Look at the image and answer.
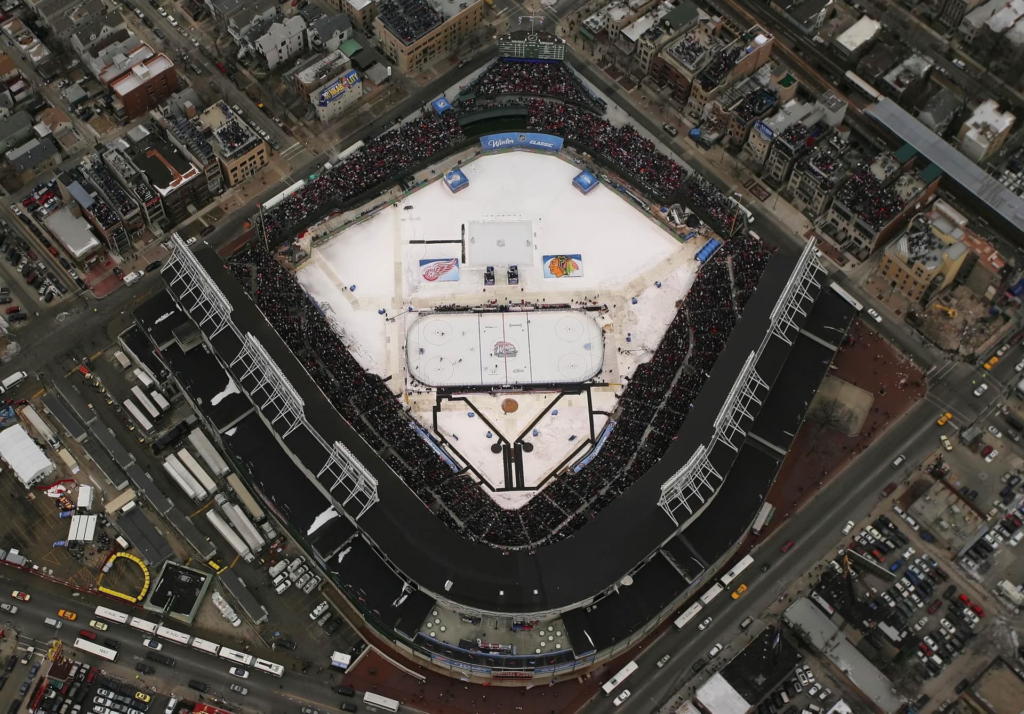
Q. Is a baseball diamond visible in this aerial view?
Yes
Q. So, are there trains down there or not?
Yes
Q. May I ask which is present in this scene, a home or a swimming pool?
home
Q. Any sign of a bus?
Yes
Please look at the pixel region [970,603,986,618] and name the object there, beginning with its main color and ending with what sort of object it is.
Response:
red car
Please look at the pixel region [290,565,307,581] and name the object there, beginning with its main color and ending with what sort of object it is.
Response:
gray vehicle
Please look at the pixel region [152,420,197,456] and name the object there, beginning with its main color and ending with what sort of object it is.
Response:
black truck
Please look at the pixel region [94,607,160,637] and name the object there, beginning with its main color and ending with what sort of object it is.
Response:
white bus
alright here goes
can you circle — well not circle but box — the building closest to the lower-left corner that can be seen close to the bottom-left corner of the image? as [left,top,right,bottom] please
[44,659,72,680]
